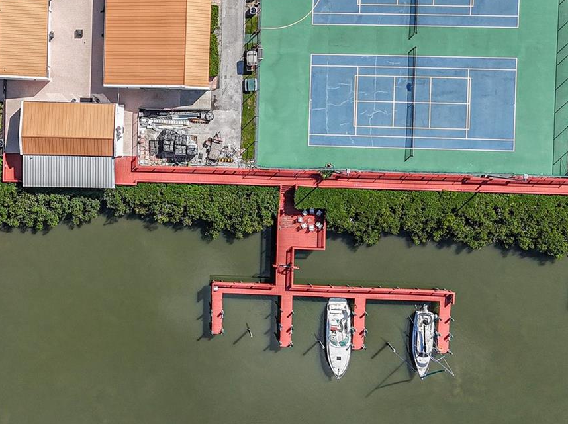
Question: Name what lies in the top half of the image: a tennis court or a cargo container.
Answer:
tennis court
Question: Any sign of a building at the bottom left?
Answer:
No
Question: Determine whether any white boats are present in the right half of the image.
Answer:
Yes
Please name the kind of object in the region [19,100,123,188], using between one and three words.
building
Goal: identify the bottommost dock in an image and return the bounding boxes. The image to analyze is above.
[211,187,457,354]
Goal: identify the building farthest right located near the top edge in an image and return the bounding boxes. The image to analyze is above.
[102,0,212,91]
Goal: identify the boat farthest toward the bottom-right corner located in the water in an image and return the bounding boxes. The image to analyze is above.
[412,303,454,378]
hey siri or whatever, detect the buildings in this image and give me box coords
[19,100,123,188]
[102,0,212,91]
[0,0,50,82]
